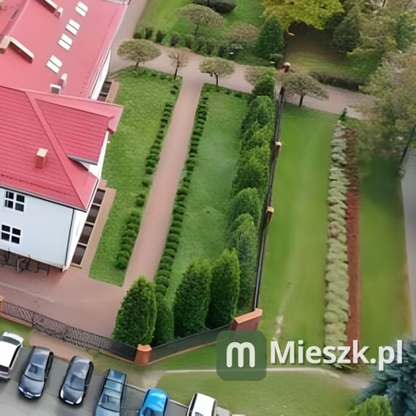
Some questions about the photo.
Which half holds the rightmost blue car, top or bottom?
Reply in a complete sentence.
The bottom half of the photo is where the rightmost blue car is.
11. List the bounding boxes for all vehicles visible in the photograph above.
[182,385,221,416]
[89,367,133,416]
[54,353,99,411]
[0,333,27,385]
[14,345,59,403]
[137,384,176,416]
